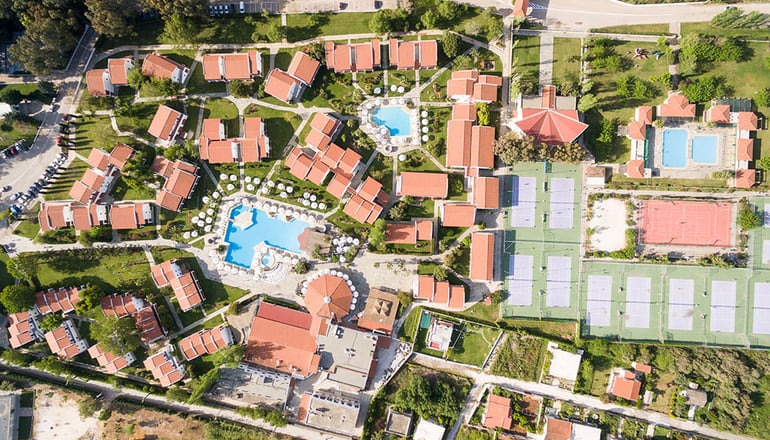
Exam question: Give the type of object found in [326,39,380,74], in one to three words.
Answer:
house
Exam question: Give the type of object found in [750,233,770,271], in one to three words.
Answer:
tennis court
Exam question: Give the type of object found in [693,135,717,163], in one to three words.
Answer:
swimming pool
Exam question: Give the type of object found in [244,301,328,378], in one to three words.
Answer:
building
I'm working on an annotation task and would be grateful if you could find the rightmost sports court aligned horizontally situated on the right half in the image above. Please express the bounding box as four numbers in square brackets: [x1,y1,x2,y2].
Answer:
[644,200,732,247]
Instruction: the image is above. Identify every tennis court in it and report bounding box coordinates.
[747,270,770,347]
[539,243,580,321]
[502,241,541,320]
[542,162,582,244]
[662,265,705,344]
[704,267,749,346]
[580,261,622,340]
[504,161,544,243]
[751,197,770,234]
[750,233,770,271]
[620,262,662,342]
